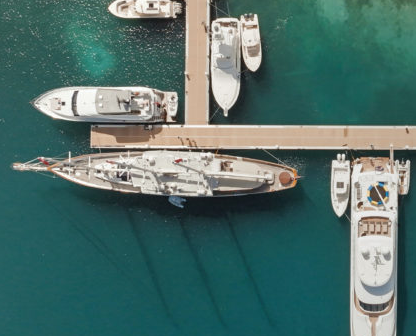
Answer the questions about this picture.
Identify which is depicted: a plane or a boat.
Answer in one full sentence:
There is a boat in the scene.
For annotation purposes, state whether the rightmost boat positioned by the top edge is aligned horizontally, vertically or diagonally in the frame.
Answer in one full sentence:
From this overhead view, the rightmost boat positioned by the top edge appears to run vertically.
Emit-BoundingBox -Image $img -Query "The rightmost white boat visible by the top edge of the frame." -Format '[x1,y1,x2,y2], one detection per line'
[242,12,262,72]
